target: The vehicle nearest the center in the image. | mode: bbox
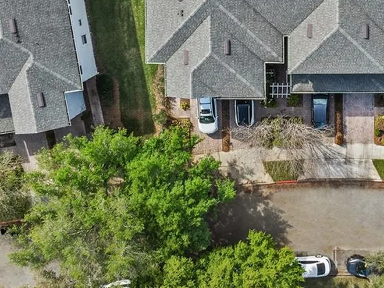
[195,100,223,134]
